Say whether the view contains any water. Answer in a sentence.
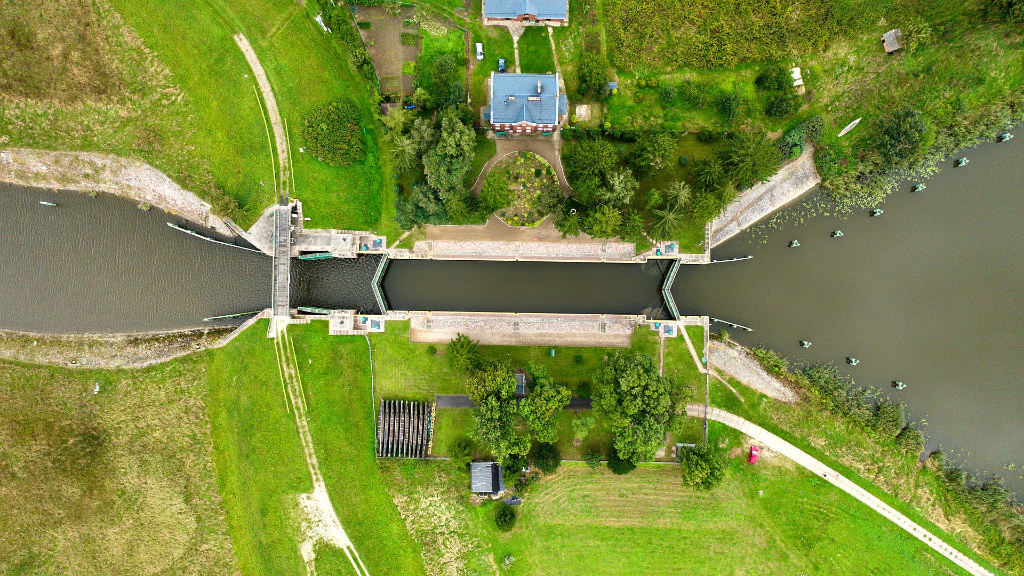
Yes, there is water in the image.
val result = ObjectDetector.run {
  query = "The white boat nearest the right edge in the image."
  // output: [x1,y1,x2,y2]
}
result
[840,117,862,135]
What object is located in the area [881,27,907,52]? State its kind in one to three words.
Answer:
shed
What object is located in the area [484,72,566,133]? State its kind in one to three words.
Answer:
house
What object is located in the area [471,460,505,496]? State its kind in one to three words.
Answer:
shed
